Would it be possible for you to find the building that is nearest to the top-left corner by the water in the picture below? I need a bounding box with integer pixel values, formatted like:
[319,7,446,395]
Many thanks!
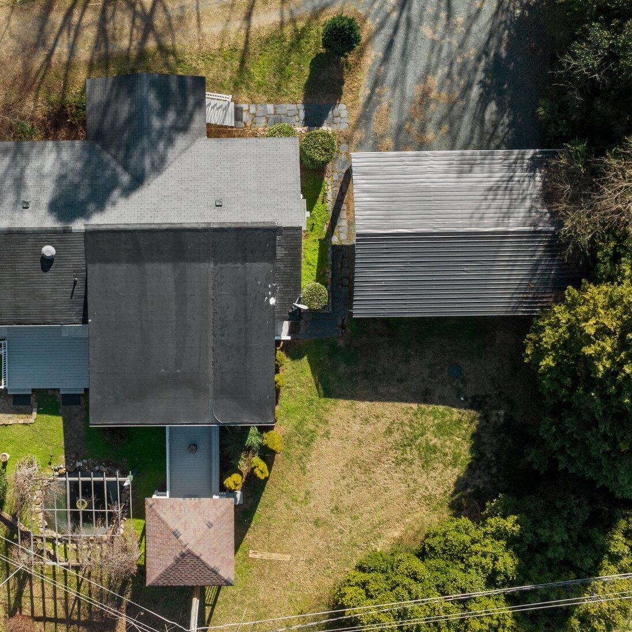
[0,73,314,427]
